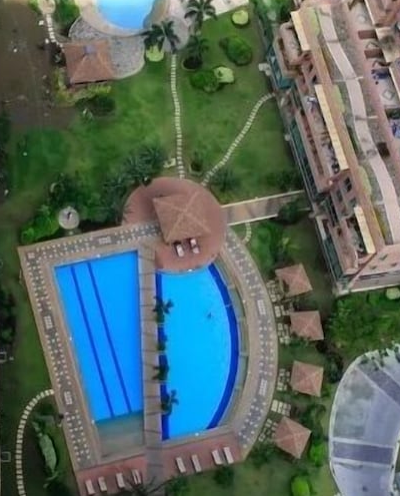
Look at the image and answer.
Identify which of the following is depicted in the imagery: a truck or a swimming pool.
swimming pool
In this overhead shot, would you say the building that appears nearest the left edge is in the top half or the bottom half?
top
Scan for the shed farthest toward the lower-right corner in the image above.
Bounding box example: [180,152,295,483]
[271,417,311,460]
